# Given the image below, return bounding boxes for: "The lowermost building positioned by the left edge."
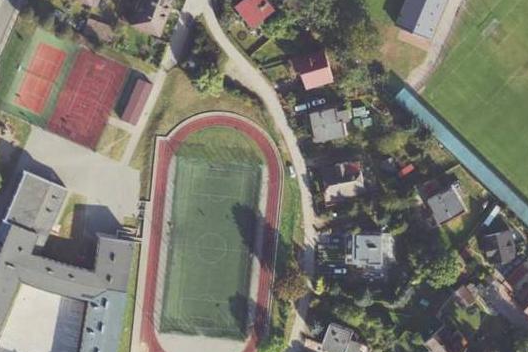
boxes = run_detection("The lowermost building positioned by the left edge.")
[0,171,135,352]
